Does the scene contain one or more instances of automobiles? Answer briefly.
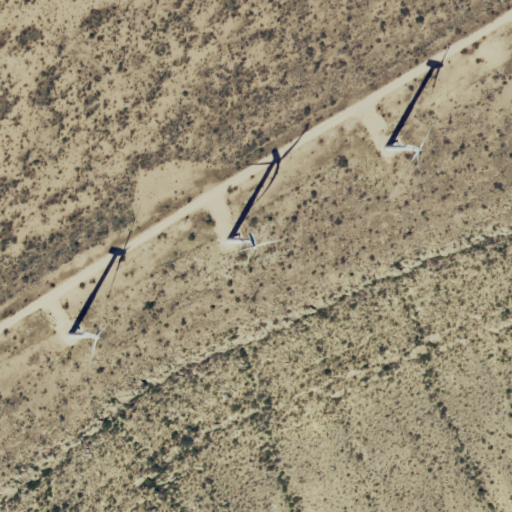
No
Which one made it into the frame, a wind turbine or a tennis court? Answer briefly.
wind turbine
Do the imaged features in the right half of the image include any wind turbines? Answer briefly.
Yes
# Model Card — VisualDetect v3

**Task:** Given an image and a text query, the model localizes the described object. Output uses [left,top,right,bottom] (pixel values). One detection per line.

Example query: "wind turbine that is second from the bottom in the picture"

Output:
[222,233,286,260]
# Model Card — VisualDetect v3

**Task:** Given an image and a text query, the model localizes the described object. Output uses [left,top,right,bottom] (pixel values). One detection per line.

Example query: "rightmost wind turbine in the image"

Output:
[382,118,432,179]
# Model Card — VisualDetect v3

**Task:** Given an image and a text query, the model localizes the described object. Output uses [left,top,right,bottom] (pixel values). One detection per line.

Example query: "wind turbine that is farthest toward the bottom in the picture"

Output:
[64,307,104,370]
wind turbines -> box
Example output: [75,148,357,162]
[64,307,104,370]
[222,233,286,260]
[382,118,432,179]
